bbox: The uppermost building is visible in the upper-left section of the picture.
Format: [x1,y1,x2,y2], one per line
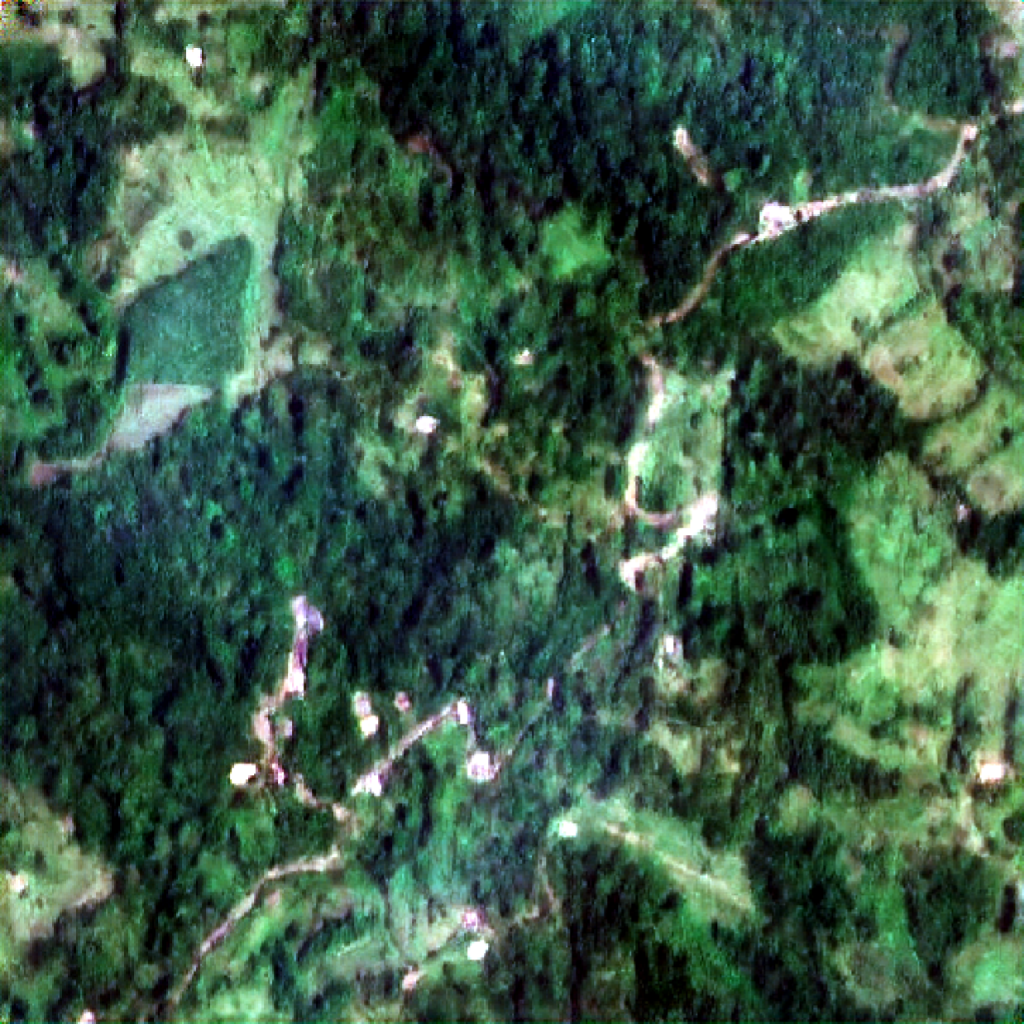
[185,45,203,68]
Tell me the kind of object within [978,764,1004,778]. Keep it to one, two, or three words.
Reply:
house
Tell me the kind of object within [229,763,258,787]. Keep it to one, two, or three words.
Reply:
building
